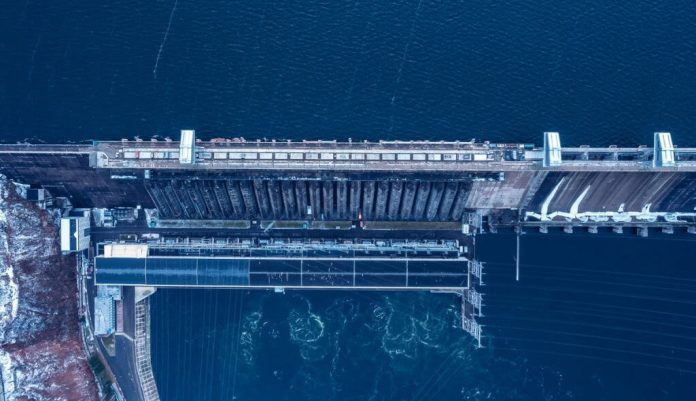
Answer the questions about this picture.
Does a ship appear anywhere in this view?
No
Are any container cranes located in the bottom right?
No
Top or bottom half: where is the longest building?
bottom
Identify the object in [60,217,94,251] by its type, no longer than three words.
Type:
building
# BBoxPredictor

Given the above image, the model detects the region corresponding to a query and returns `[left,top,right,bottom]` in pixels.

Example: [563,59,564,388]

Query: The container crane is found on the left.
[180,130,197,168]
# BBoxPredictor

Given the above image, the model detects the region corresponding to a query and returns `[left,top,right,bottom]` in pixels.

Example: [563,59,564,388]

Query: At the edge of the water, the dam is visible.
[0,137,696,235]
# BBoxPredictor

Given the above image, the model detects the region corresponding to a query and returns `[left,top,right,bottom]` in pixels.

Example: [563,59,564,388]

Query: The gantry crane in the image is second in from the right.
[544,130,561,168]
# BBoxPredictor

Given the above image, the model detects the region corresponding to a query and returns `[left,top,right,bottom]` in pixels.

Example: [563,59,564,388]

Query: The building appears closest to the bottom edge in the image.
[94,296,119,334]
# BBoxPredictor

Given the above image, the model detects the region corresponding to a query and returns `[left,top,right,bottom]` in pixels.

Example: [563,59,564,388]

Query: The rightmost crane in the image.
[652,130,674,168]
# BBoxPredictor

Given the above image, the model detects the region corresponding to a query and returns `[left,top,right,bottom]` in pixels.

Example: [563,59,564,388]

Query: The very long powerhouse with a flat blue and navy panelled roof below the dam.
[94,249,468,289]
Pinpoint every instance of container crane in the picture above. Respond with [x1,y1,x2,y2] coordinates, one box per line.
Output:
[180,130,197,168]
[544,130,561,168]
[652,130,674,168]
